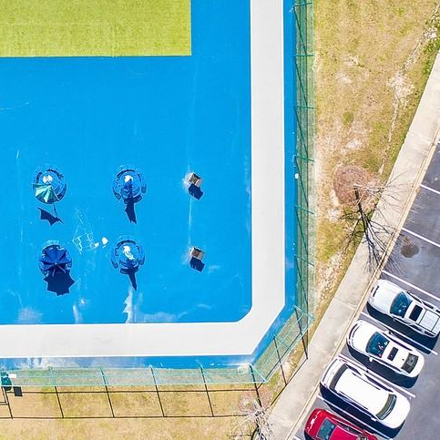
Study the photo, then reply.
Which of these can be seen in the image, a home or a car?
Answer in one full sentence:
It is a car that can be seen here.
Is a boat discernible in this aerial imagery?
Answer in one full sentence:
No, no boat is visible in the view.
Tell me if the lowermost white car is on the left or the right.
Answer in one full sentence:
The lowermost white car appears in the right half of the scene.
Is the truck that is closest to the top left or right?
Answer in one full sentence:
You can find the truck that is closest to the top on the right side of the picture.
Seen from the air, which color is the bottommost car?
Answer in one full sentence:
The color of the bottommost car is red.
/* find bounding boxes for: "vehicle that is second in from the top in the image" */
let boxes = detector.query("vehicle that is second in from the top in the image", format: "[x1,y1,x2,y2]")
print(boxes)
[343,319,424,377]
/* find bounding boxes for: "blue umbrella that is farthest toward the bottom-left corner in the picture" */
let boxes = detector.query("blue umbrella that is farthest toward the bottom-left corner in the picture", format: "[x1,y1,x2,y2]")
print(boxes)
[39,246,72,278]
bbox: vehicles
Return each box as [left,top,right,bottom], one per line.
[364,278,440,339]
[318,356,407,424]
[343,319,424,377]
[301,408,369,440]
